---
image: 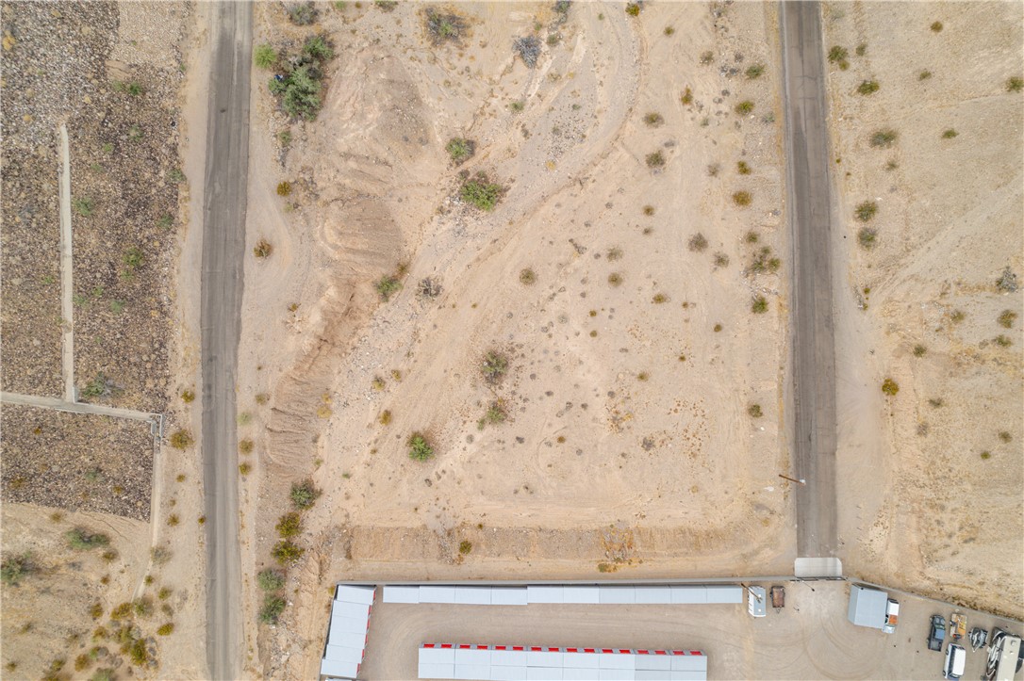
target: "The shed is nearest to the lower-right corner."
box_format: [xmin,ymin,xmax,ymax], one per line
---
[846,584,887,629]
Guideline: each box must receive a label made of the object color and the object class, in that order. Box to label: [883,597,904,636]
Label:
white truck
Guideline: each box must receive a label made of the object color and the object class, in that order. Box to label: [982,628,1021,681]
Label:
white camper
